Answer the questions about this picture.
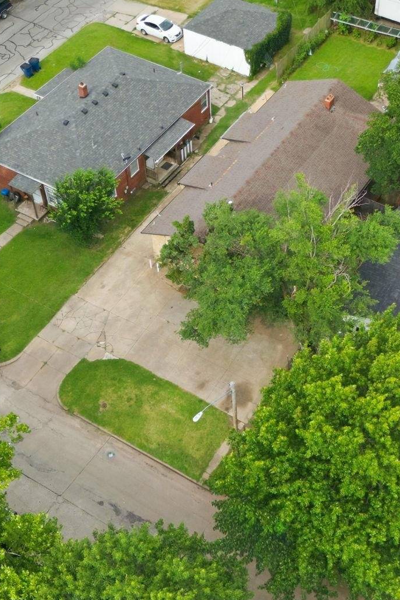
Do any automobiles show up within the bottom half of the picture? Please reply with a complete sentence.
No, within the bottom half of the picture there is no automobile.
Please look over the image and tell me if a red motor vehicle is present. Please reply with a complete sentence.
No, the scene contains no red motor vehicle.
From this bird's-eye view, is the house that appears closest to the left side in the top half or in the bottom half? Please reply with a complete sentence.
The house that appears closest to the left side sits in the top half of the picture.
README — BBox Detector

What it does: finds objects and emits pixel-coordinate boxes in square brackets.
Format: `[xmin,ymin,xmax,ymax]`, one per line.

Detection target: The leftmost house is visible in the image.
[0,45,213,229]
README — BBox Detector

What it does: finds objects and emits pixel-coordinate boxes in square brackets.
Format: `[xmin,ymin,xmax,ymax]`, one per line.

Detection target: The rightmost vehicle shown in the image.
[133,13,183,42]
